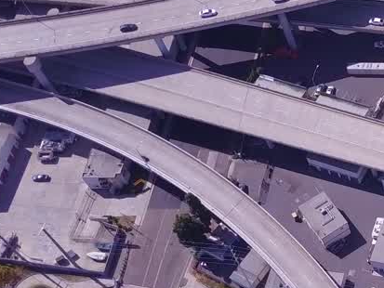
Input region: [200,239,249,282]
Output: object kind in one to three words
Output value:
house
